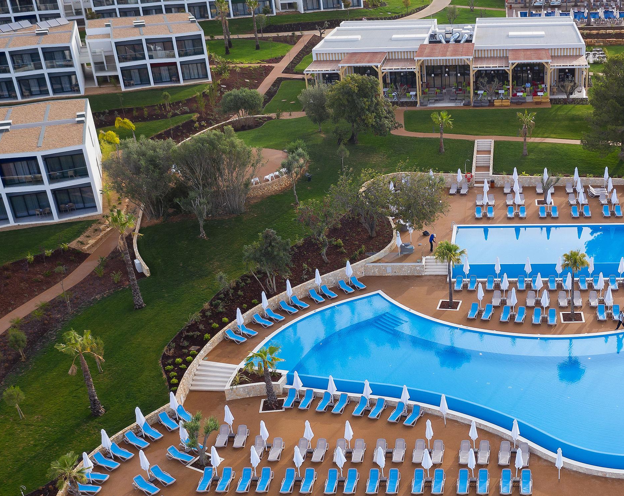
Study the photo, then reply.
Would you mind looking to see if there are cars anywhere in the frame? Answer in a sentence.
No, I find no car anywhere in the image.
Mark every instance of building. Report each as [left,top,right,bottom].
[83,15,212,93]
[0,103,102,227]
[0,20,84,102]
[303,0,589,107]
[268,0,363,14]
